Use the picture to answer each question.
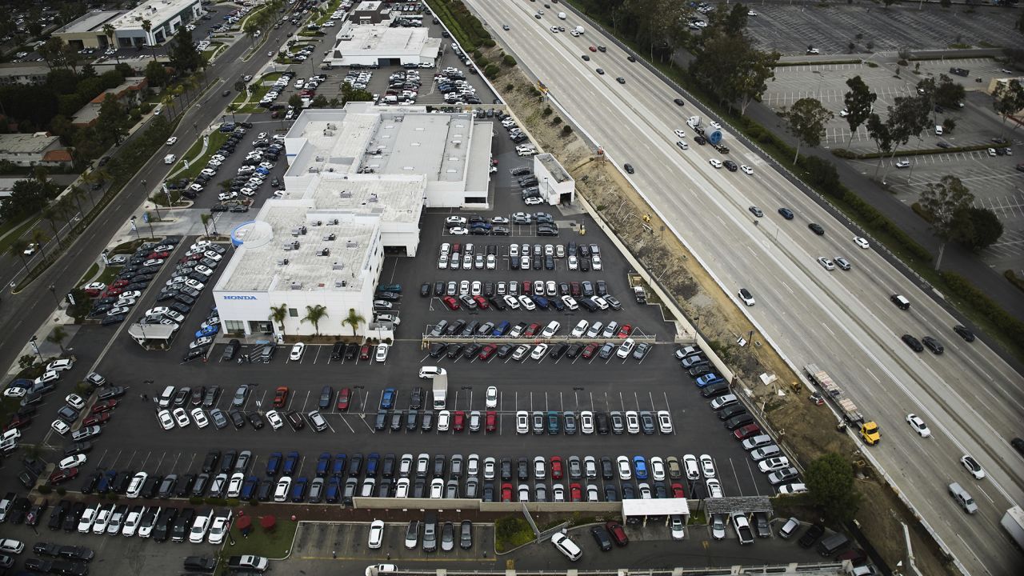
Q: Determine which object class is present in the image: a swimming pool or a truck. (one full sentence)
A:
There is a truck in the scene.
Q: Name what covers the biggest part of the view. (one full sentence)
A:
Most of the picture is covered by paved ground.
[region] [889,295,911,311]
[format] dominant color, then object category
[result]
black car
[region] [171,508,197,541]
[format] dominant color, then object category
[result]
black truck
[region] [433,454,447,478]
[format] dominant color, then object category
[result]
black car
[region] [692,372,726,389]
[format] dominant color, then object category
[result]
blue vehicle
